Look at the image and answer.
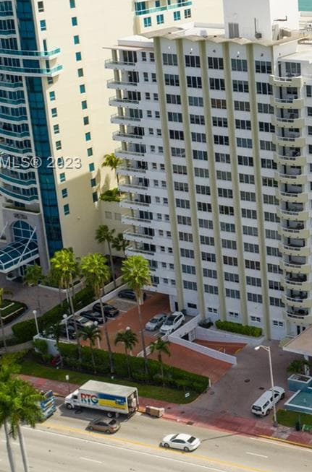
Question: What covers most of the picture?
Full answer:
For the most part, this view shows buildings.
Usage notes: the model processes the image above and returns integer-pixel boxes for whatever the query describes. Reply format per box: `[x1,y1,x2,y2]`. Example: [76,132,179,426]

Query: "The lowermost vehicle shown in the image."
[161,434,201,452]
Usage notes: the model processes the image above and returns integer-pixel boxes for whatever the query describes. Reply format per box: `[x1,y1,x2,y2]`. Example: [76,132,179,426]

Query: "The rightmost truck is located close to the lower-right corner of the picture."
[252,384,284,411]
